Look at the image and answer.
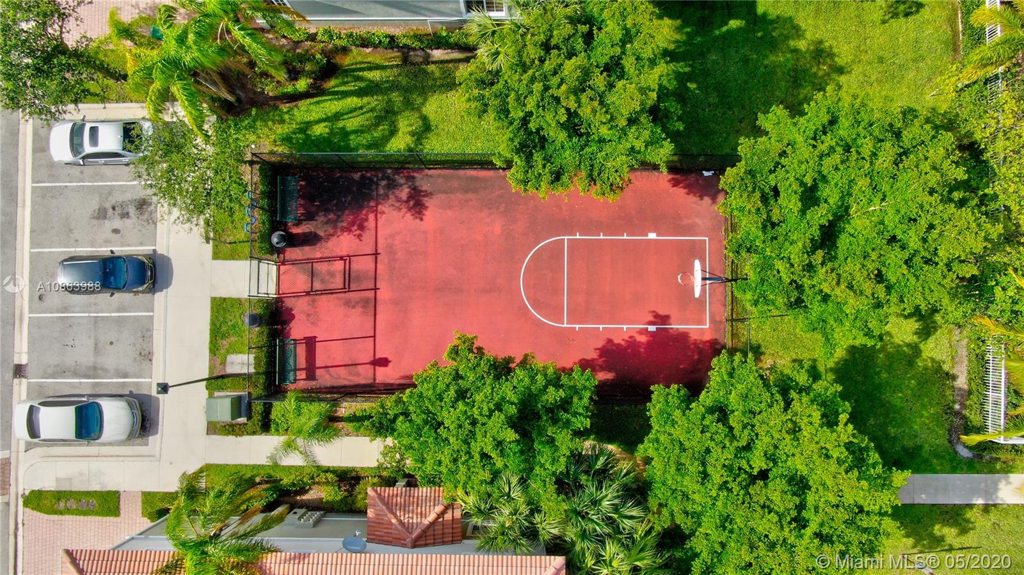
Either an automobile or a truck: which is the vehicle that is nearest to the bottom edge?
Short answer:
automobile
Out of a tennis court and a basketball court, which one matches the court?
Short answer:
basketball court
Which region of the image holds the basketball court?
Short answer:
center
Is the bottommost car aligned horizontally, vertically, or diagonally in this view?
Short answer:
horizontally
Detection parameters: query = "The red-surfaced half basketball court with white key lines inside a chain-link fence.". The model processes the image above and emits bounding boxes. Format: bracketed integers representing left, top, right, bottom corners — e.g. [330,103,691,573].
[277,168,728,389]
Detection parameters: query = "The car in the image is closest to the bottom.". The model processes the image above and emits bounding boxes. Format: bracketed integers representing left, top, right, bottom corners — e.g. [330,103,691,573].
[13,393,140,449]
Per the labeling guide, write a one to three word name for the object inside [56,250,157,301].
car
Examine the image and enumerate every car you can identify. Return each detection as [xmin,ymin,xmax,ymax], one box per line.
[56,250,157,301]
[49,117,156,168]
[13,393,140,449]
